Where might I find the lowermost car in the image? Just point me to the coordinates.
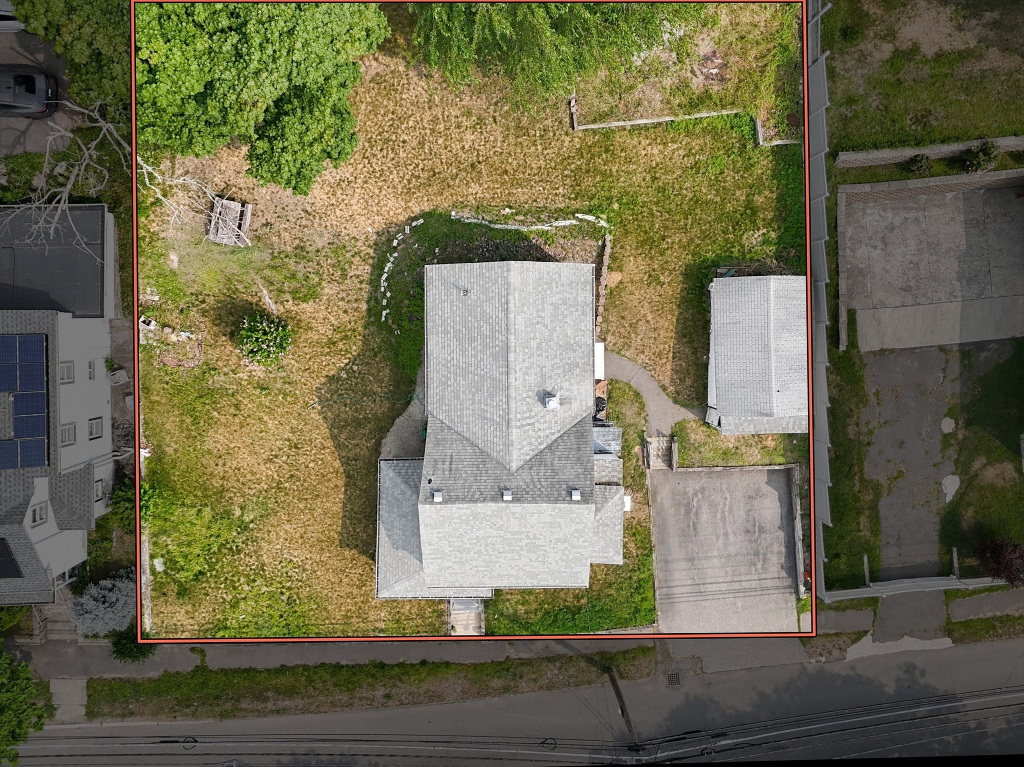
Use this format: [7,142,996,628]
[0,64,56,118]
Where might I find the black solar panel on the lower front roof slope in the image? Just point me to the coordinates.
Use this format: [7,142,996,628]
[0,541,22,581]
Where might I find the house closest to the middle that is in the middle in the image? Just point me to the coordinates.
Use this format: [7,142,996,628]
[375,259,630,601]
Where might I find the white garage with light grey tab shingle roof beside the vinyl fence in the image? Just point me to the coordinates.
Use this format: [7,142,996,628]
[697,273,814,438]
